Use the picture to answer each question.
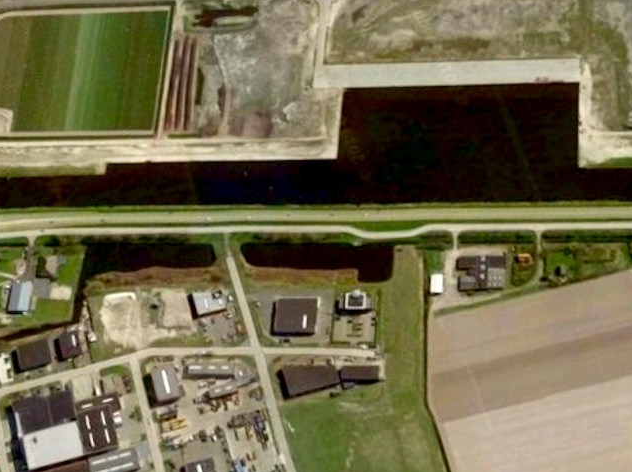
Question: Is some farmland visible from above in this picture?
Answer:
Yes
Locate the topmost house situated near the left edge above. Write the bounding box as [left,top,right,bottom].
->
[6,281,33,312]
